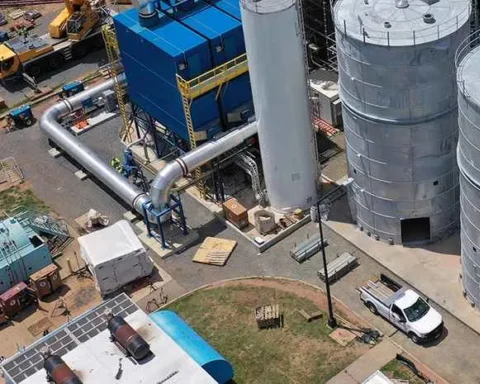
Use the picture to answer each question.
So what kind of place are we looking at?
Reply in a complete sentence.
What you see here is an industrial area.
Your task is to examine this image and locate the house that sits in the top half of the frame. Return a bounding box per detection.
[96,0,258,183]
